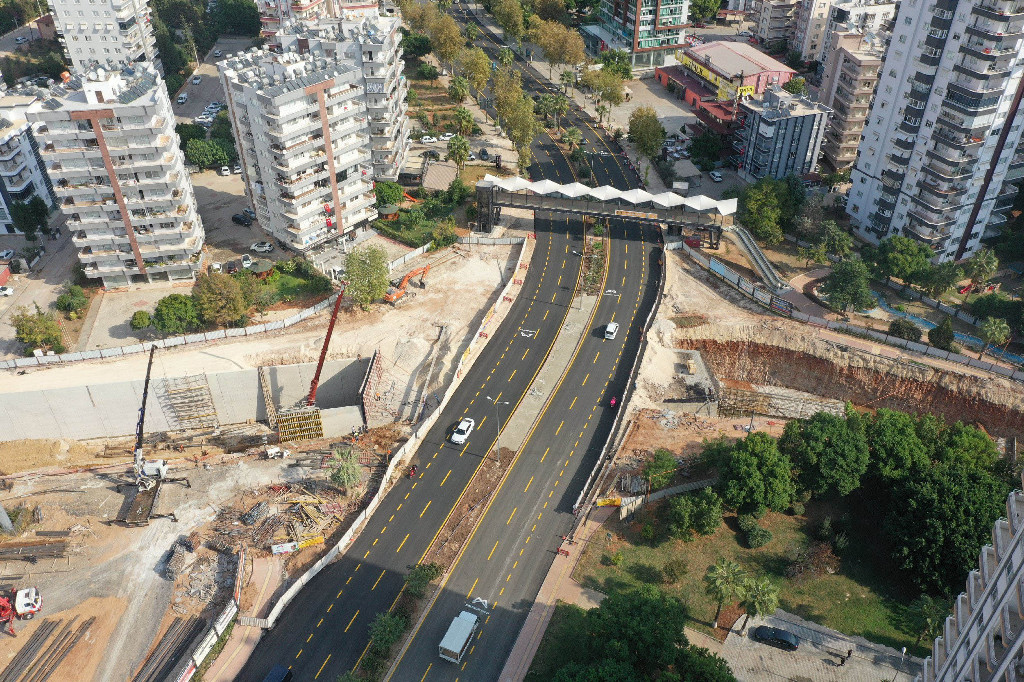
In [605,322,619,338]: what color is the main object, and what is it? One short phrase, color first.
white car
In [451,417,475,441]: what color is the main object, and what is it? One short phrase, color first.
white car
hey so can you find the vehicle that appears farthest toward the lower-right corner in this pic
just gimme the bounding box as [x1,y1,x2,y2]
[756,623,802,651]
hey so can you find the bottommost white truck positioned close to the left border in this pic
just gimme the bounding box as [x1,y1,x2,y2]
[0,583,52,635]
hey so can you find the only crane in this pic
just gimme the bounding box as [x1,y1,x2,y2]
[308,278,373,411]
